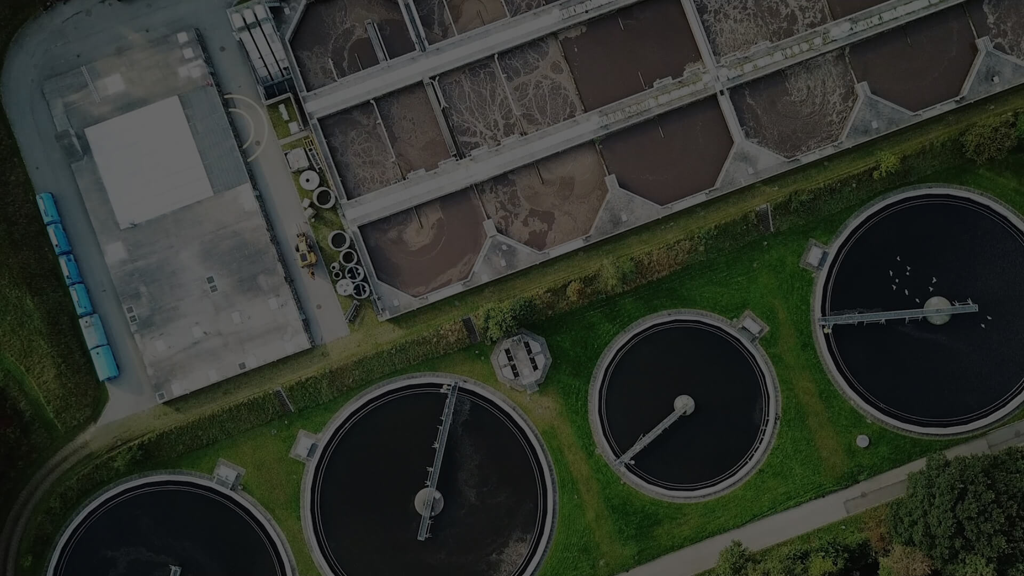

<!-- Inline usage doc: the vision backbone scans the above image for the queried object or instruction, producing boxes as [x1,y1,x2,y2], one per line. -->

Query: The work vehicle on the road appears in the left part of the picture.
[293,220,321,275]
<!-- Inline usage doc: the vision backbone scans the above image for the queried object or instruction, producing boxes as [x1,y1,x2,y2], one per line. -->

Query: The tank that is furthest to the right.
[801,183,1024,438]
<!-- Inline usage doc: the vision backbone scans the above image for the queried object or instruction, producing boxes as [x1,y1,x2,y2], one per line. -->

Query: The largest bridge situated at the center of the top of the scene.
[423,78,458,157]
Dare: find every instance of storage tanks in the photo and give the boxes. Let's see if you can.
[587,308,781,502]
[801,183,1024,438]
[293,371,559,576]
[50,463,298,576]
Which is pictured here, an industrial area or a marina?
industrial area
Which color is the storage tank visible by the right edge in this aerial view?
black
